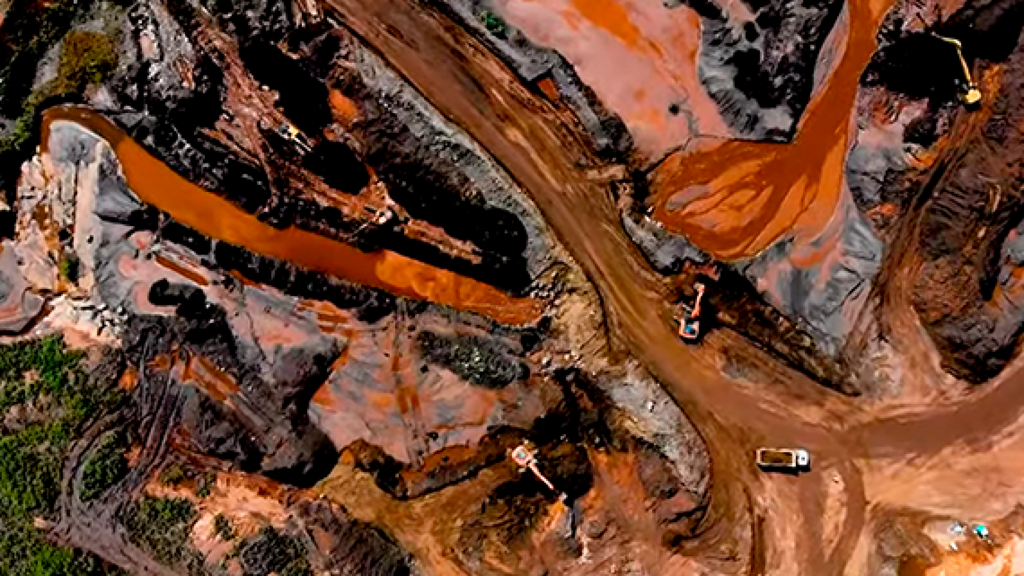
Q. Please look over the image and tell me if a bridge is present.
No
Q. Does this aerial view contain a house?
No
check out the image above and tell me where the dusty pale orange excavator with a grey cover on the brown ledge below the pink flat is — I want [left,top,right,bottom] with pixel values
[510,444,558,493]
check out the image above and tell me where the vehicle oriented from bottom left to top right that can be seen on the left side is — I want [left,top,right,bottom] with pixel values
[357,203,395,233]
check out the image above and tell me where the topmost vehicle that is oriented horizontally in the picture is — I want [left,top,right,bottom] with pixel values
[754,446,809,468]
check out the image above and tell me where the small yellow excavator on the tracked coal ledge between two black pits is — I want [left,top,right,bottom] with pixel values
[284,123,312,151]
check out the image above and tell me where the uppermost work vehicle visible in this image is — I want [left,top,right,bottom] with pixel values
[931,32,982,106]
